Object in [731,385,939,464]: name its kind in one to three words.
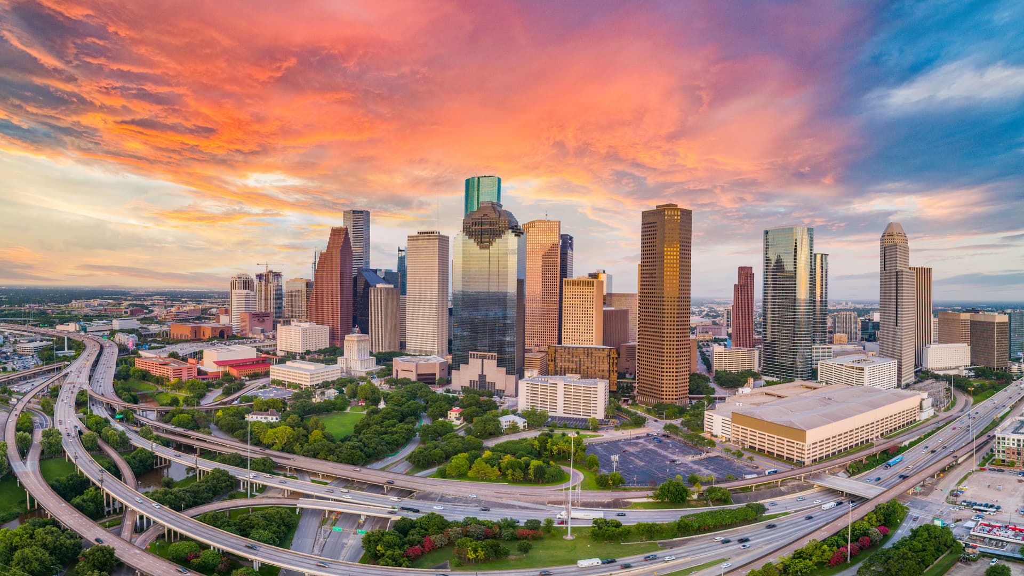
building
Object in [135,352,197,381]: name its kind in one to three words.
building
